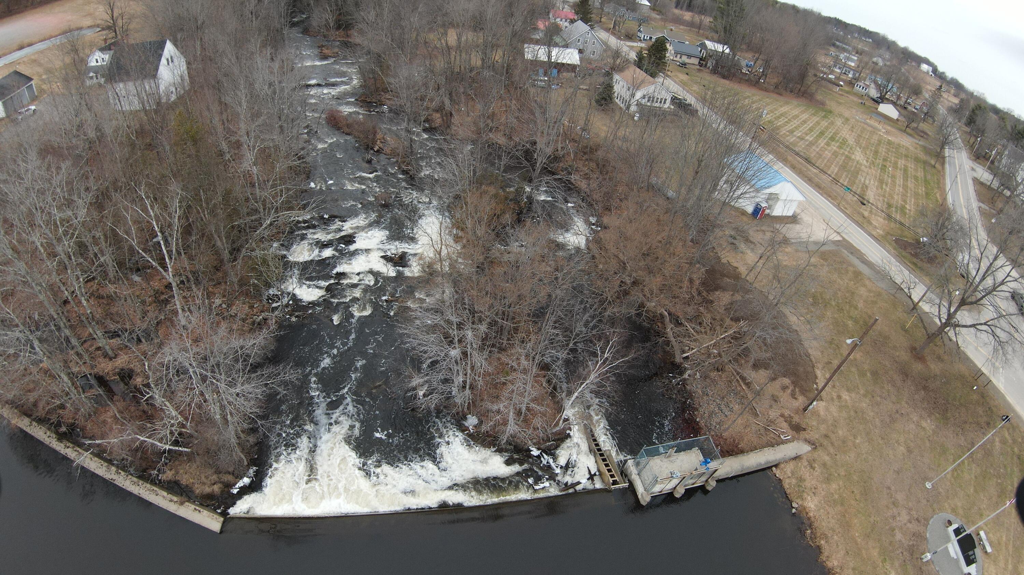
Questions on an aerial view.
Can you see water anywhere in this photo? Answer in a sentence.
Yes, some water is visible.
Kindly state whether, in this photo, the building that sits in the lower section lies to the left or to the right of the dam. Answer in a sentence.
Looking at the picture, you'll find the building that sits in the lower section to the right of the dam.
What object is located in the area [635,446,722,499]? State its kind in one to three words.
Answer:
building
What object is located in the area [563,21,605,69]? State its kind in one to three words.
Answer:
house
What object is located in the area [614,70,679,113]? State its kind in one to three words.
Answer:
house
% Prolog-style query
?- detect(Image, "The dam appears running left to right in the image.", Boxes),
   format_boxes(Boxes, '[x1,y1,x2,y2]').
[229,489,602,517]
